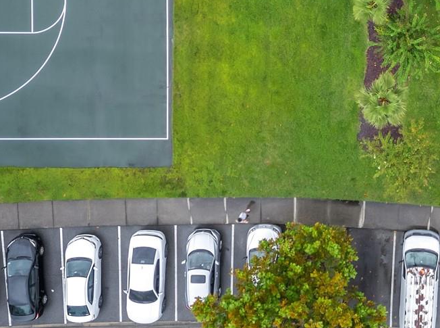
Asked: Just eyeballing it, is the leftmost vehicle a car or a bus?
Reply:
car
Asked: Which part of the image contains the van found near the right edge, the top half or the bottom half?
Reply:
bottom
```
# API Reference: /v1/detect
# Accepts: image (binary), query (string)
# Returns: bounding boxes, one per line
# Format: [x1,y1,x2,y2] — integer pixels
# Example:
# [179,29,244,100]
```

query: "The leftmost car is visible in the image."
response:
[1,235,50,322]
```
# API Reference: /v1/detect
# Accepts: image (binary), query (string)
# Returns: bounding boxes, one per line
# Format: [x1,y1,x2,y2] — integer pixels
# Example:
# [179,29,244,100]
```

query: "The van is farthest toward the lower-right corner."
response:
[400,230,440,328]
